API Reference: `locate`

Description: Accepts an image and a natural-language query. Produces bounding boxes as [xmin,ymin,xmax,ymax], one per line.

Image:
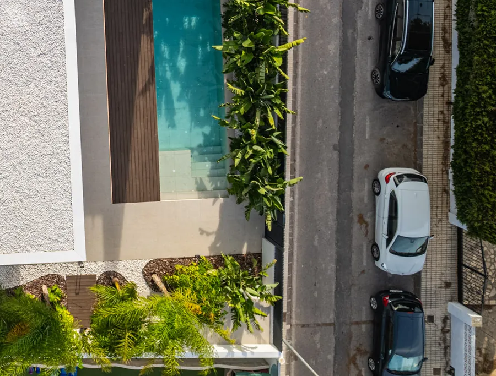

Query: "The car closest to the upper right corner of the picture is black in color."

[371,0,436,103]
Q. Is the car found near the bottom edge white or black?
black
